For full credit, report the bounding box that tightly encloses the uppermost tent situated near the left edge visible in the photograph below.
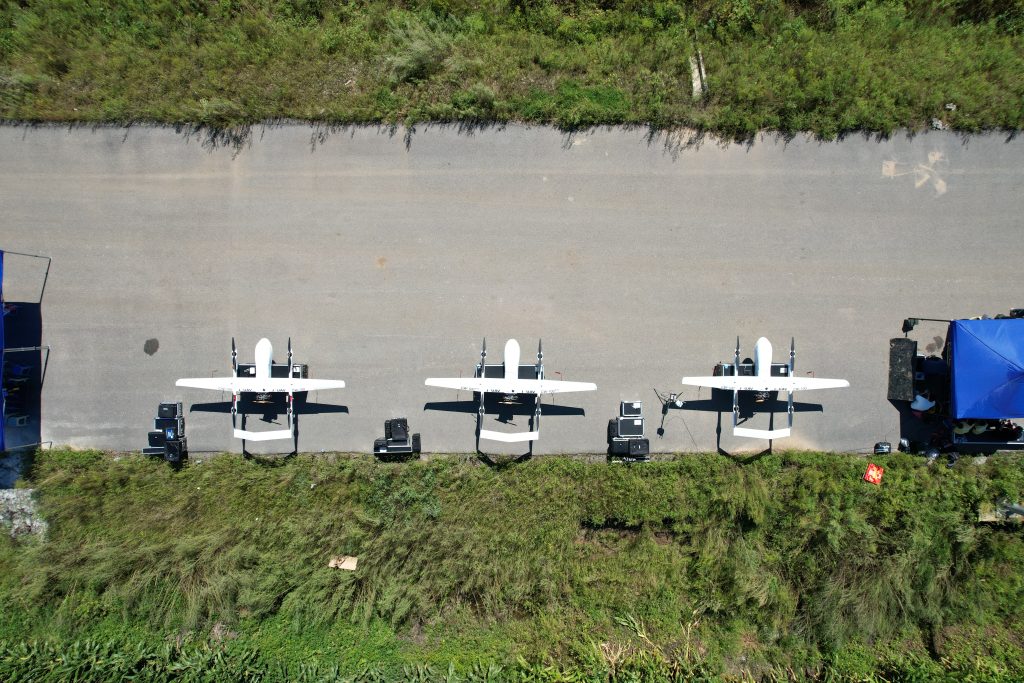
[0,249,50,351]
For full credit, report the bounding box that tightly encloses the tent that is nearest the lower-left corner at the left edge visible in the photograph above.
[0,348,52,455]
